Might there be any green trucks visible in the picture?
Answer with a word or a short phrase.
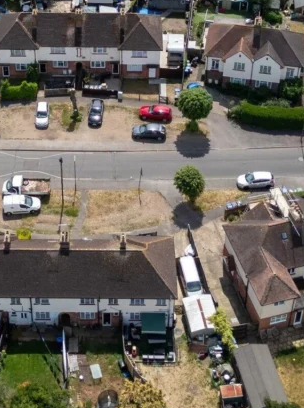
No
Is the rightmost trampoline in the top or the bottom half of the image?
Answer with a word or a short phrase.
bottom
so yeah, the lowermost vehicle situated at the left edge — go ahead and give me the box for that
[2,195,43,218]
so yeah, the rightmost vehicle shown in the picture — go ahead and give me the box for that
[237,172,274,192]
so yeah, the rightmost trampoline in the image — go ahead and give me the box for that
[92,376,121,408]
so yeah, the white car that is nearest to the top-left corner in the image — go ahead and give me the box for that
[33,103,50,128]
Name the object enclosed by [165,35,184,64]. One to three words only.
camper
